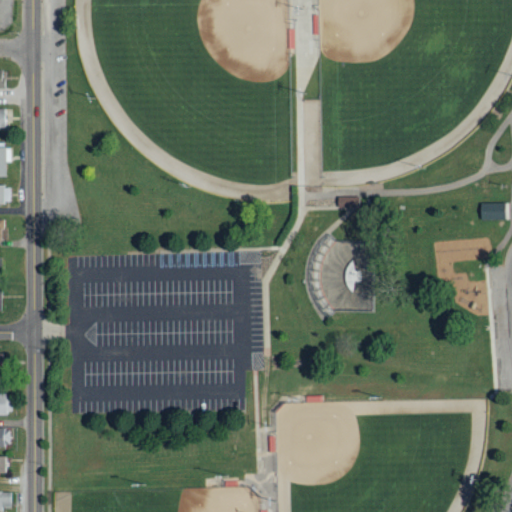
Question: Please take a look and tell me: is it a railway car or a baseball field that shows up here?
baseball field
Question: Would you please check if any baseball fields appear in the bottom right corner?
Yes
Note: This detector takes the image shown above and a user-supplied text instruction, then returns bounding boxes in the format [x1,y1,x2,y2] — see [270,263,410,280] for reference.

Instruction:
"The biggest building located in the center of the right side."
[482,203,511,220]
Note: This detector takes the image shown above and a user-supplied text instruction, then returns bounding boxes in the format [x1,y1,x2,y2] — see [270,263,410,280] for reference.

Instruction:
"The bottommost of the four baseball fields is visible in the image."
[54,486,262,512]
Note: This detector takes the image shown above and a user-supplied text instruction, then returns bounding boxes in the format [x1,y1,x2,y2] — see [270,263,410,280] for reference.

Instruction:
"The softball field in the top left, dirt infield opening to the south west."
[74,0,291,202]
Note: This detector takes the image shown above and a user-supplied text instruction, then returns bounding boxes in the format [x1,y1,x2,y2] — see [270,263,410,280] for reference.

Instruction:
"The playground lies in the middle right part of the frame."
[435,238,492,315]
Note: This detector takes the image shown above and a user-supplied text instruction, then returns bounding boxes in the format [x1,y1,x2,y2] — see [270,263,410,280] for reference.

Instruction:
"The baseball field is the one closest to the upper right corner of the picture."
[320,0,512,187]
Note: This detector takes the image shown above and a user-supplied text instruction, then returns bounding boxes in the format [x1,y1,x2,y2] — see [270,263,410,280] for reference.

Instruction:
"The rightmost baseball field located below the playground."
[277,399,487,512]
